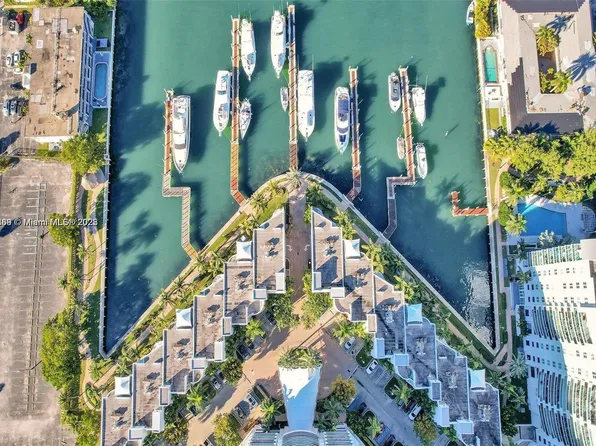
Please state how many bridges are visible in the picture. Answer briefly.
0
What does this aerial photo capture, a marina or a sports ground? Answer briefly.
marina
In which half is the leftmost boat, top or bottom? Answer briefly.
top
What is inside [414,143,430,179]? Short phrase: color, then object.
white boat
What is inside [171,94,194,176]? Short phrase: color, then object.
white boat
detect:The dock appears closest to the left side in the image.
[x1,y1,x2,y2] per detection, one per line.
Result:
[159,87,199,262]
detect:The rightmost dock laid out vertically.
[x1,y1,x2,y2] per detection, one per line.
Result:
[377,63,417,243]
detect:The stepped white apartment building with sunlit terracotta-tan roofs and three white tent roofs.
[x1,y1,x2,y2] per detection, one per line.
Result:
[98,209,286,446]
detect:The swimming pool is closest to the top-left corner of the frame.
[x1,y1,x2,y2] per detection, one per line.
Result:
[94,62,109,101]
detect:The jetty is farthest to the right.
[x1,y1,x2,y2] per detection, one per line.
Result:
[450,191,490,218]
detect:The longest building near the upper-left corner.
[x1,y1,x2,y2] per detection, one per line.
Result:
[24,7,97,144]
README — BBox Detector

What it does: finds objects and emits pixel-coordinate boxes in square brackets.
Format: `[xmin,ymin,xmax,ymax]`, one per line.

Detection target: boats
[211,69,232,136]
[397,136,405,158]
[296,61,319,144]
[330,86,351,155]
[384,73,402,113]
[237,98,256,139]
[171,94,194,176]
[268,6,288,79]
[281,86,288,110]
[414,143,430,179]
[409,79,430,128]
[236,13,259,82]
